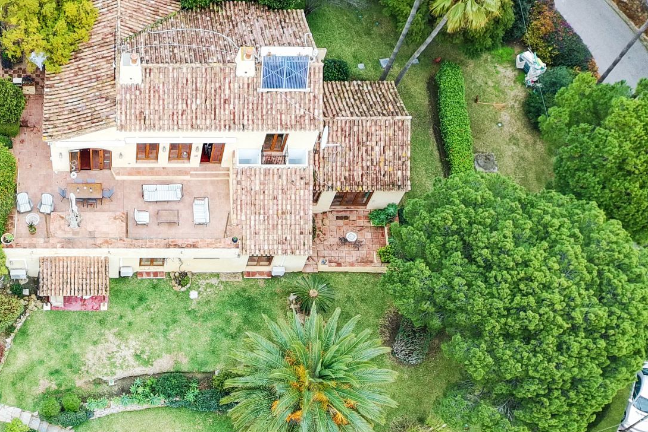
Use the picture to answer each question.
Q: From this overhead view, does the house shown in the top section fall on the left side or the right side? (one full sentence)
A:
The house shown in the top section is on the left side of the image.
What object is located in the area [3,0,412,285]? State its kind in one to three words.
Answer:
house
